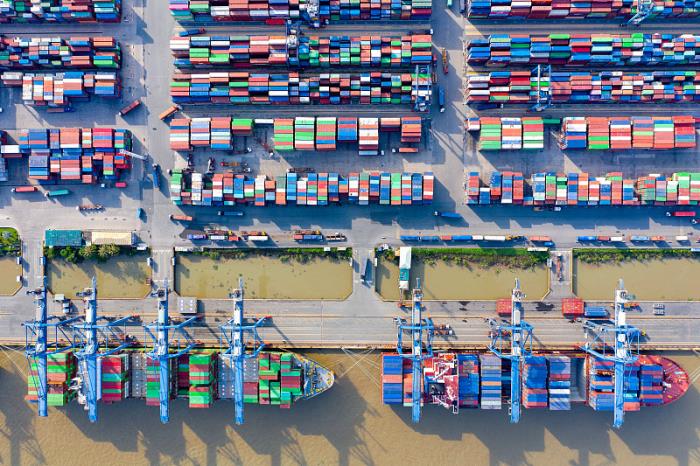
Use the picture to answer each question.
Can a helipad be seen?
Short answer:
No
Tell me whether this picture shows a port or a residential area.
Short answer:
port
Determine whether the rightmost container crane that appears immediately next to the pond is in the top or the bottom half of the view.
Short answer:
bottom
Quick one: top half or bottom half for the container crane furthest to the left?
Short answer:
bottom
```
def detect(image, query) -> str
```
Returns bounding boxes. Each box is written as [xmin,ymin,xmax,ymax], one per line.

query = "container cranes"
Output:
[221,279,273,427]
[522,64,551,115]
[26,277,102,420]
[474,279,531,425]
[564,279,634,430]
[77,278,146,424]
[301,0,322,33]
[386,278,432,424]
[283,24,305,76]
[409,64,432,116]
[618,0,656,33]
[148,281,208,427]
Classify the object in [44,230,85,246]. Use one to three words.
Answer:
shed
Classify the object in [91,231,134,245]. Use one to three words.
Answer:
shed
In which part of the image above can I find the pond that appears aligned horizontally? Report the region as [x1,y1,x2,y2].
[0,249,700,299]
